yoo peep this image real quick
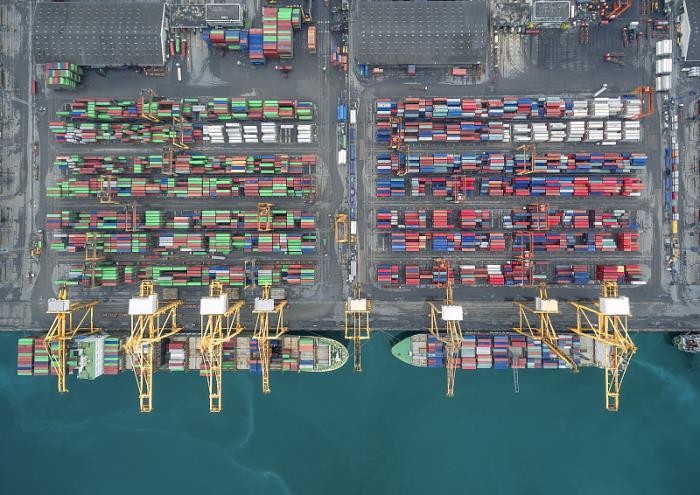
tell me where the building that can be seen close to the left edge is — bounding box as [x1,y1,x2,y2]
[33,2,167,68]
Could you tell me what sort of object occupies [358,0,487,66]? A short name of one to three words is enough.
building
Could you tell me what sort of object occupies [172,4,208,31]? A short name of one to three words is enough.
building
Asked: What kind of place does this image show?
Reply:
port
